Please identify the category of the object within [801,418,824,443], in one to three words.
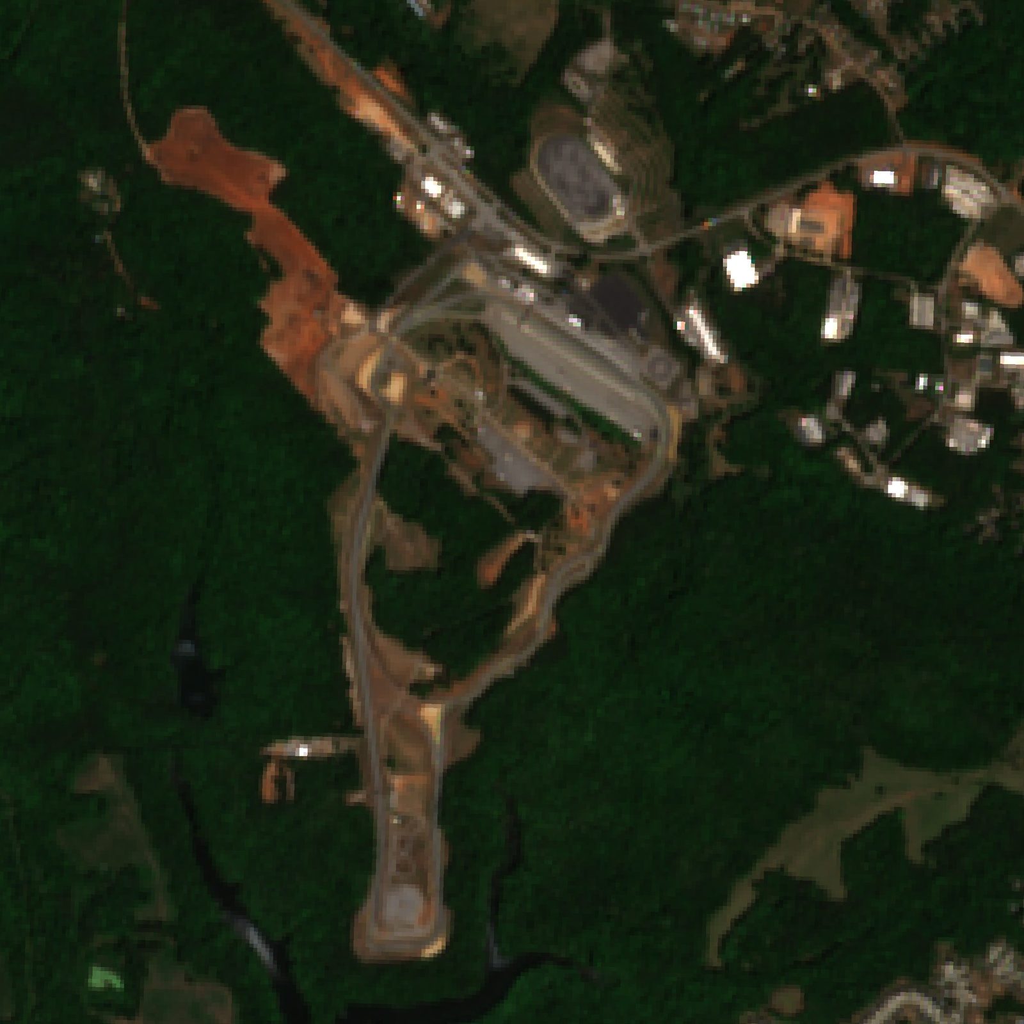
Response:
building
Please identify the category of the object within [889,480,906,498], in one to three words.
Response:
building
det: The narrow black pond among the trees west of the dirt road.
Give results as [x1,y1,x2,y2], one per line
[173,575,225,717]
